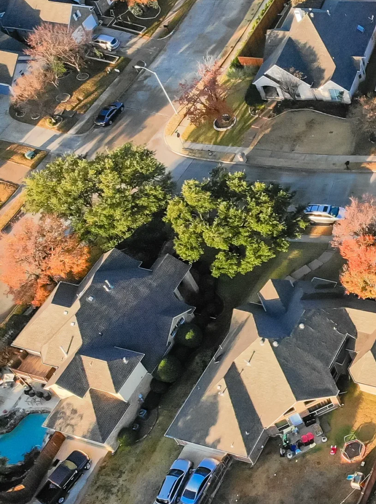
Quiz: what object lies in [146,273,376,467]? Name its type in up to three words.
house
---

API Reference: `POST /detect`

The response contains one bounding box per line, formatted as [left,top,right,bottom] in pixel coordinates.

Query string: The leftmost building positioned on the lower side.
[12,247,225,456]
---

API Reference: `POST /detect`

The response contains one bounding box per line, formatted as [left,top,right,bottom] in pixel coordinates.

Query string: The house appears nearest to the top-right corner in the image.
[249,0,376,107]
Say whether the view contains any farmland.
No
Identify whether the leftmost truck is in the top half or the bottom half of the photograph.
bottom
